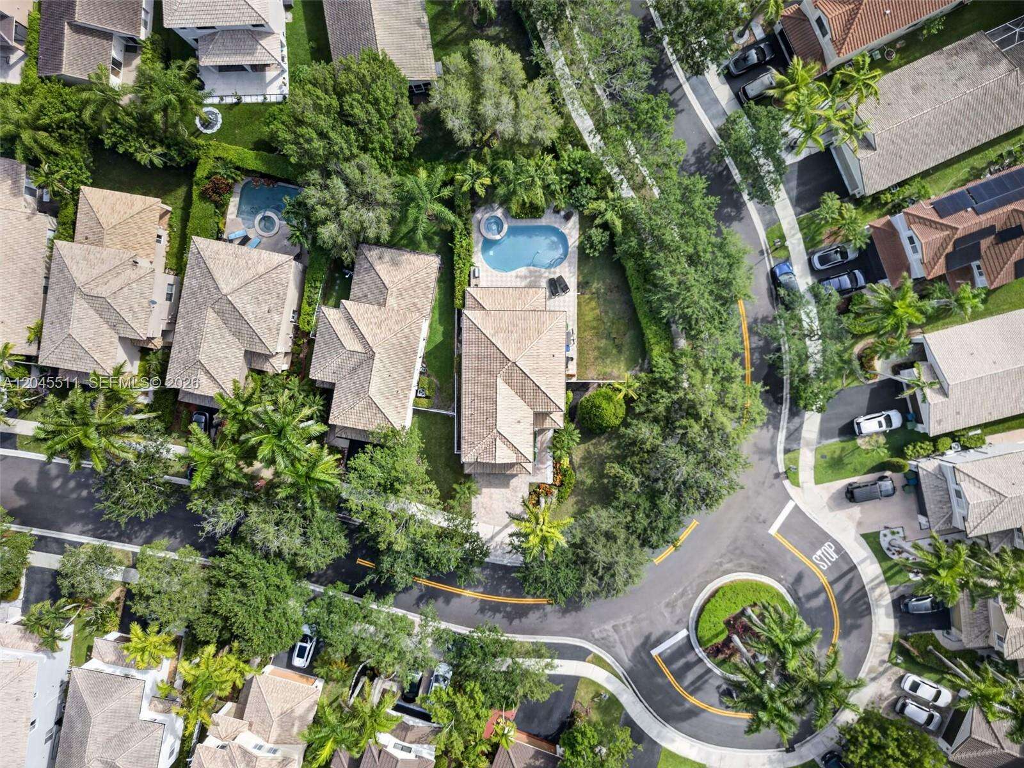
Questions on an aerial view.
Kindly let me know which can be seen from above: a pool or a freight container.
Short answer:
pool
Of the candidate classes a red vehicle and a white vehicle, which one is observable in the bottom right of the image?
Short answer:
white vehicle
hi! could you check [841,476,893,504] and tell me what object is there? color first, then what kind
gray car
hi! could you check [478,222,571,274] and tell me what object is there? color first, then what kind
blue swimming pool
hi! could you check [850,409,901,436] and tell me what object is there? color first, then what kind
white car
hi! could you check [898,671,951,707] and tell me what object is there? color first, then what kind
white car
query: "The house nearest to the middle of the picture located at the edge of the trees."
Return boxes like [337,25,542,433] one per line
[461,286,567,476]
